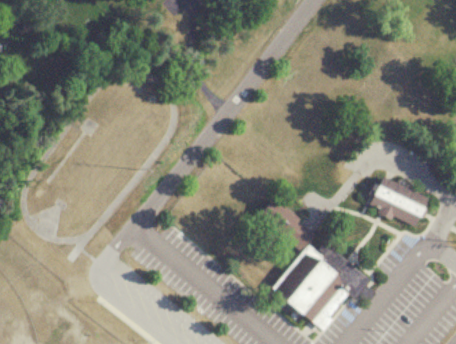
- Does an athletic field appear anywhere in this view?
Yes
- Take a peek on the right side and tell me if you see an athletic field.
No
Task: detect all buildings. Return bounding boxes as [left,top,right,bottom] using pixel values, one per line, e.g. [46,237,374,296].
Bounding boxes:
[372,178,430,226]
[274,244,352,332]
